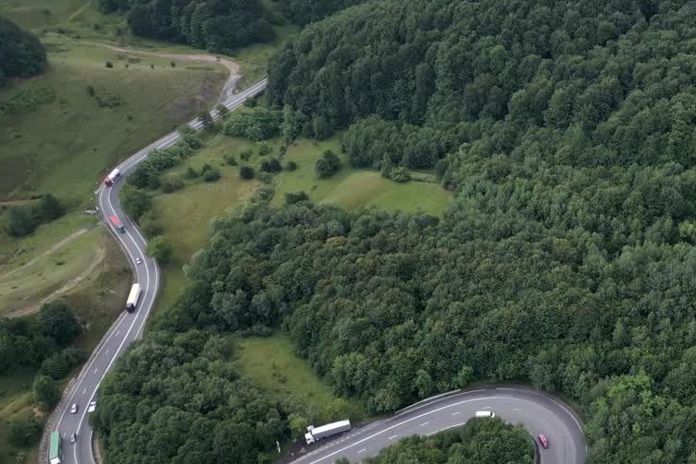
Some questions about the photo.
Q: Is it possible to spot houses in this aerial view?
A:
No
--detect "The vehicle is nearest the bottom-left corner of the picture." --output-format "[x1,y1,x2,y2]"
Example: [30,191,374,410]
[49,429,64,464]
